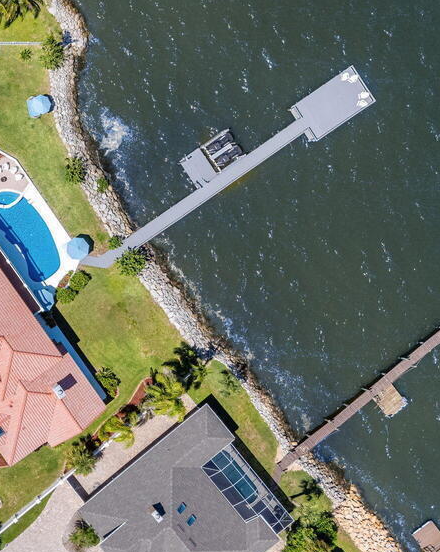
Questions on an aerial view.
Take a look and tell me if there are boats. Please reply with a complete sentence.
Yes, the picture does show a boat.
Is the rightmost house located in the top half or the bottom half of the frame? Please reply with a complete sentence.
Seen from above, the rightmost house lies in the bottom half of the view.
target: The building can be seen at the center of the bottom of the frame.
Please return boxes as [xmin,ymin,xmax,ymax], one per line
[79,403,279,552]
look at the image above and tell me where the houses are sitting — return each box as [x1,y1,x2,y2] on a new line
[0,249,109,467]
[79,403,279,552]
